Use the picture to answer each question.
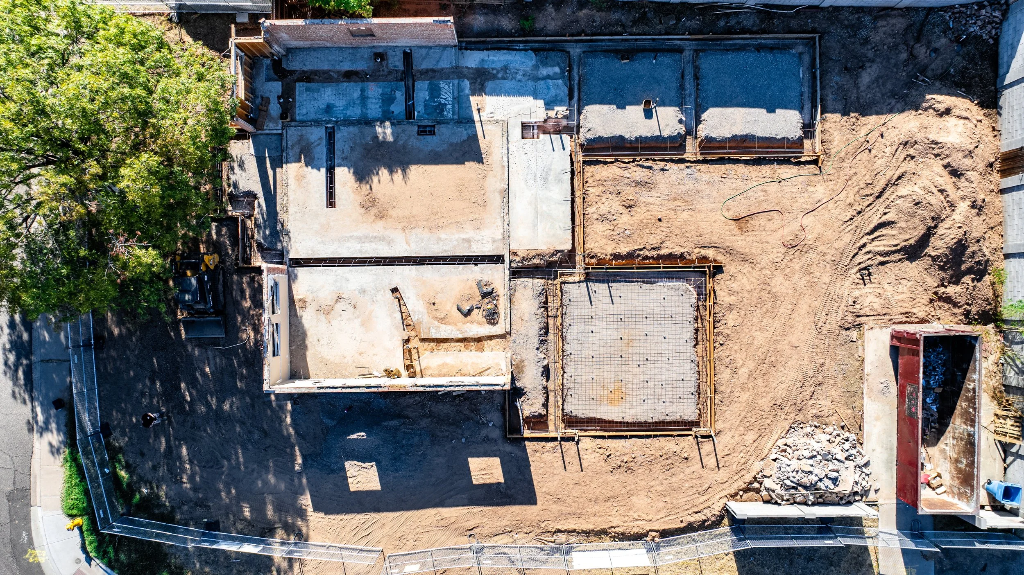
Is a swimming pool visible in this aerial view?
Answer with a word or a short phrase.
No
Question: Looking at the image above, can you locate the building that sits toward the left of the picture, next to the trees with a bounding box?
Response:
[221,11,571,400]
